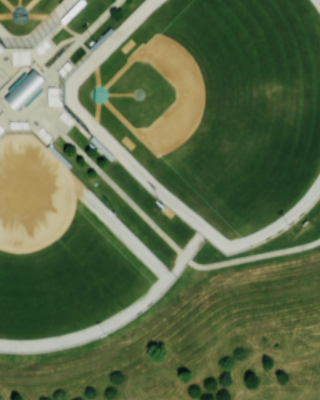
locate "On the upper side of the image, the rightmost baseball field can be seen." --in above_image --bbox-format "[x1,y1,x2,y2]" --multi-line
[65,0,320,256]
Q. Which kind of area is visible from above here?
sports ground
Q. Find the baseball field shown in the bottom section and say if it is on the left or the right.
left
